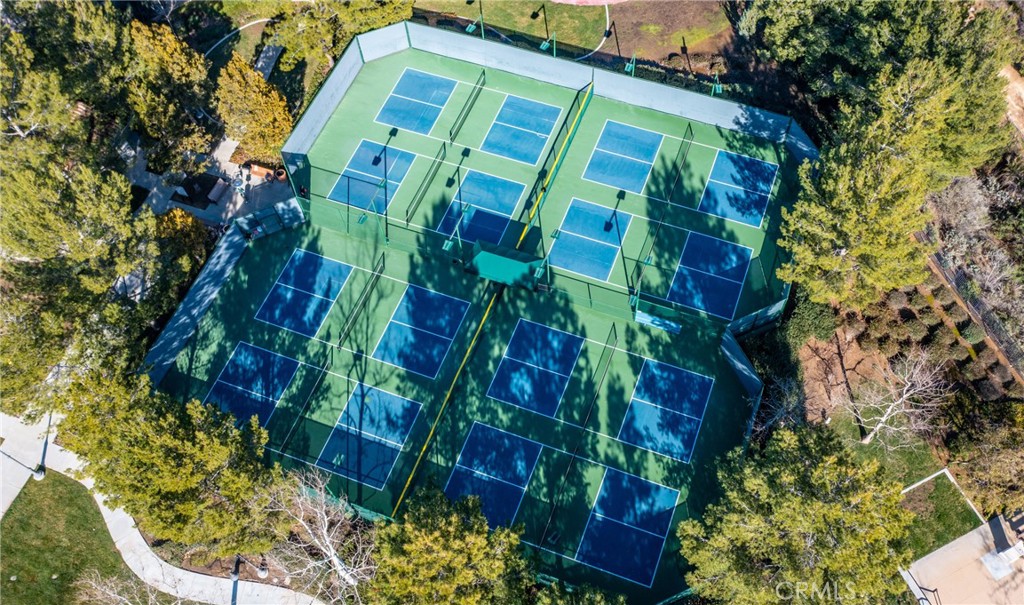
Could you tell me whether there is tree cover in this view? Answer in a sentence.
Yes, there is tree cover in the image.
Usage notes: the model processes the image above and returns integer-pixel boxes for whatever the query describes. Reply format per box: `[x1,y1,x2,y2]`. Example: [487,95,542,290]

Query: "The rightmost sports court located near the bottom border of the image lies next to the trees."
[440,422,680,588]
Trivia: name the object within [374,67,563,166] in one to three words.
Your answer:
sports court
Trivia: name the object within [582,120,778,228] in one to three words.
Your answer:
sports court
